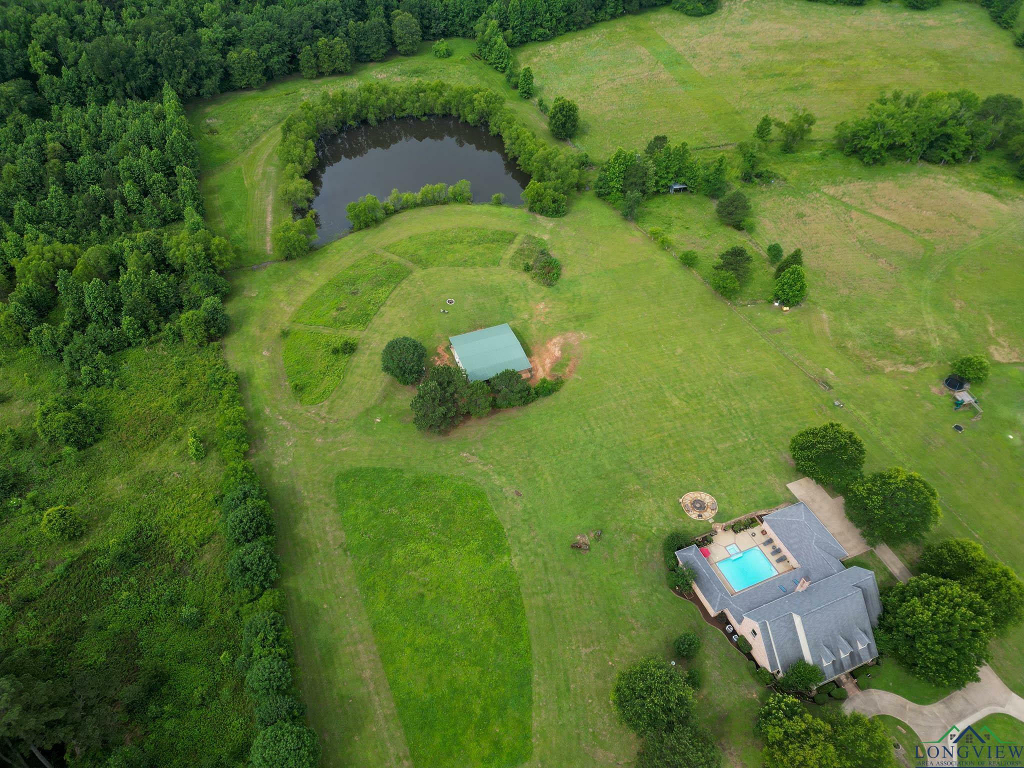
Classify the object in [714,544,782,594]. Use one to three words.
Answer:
swimming pool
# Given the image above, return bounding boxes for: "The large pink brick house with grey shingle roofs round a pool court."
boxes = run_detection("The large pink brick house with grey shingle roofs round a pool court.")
[676,501,885,696]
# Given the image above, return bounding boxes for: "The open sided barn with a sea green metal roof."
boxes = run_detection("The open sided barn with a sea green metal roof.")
[449,324,532,387]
